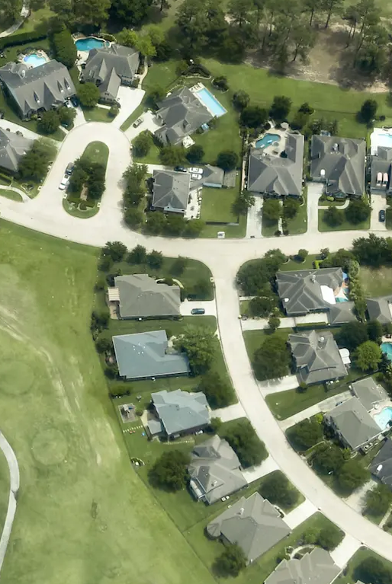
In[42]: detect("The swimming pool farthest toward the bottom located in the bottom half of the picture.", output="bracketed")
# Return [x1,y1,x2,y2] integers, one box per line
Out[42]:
[368,403,392,431]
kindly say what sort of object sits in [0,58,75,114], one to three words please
house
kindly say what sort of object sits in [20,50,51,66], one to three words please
swimming pool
